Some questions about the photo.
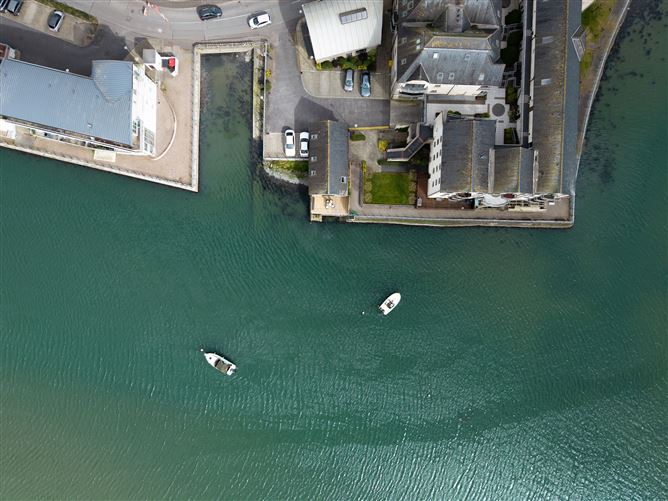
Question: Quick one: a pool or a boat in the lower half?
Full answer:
What appears in the lower half is a boat.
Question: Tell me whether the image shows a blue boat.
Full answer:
No, there isn't any blue boat down there.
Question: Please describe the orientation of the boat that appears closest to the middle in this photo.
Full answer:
The boat that appears closest to the middle is oriented at an angle.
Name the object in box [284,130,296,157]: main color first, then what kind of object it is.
white vehicle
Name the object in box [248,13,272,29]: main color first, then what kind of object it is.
white car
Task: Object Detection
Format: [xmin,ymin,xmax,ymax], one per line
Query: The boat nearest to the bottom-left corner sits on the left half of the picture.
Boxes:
[204,354,235,375]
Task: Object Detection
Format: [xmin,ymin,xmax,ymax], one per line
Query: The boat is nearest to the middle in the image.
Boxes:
[379,294,401,315]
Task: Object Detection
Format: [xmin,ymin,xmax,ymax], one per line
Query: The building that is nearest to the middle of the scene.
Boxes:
[309,121,350,197]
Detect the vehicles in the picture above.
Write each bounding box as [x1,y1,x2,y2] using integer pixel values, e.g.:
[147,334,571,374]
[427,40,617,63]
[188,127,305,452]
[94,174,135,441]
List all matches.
[248,13,272,29]
[343,70,354,93]
[4,0,24,18]
[48,7,66,32]
[196,4,221,20]
[359,72,372,98]
[298,132,309,157]
[284,130,296,157]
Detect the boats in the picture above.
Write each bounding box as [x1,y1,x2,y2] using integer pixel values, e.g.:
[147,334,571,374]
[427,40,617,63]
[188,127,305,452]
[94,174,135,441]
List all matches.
[204,354,235,375]
[379,294,401,315]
